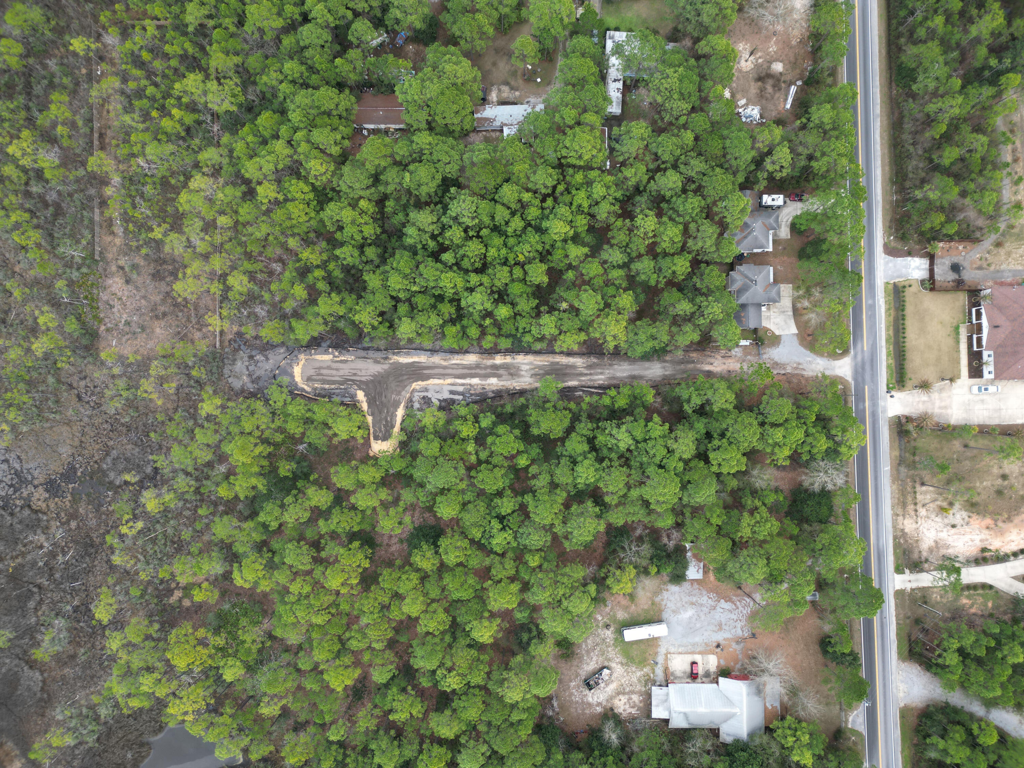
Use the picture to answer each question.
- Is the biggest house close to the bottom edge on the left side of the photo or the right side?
right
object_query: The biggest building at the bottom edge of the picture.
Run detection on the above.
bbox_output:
[667,670,765,743]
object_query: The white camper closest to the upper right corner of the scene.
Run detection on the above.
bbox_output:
[759,195,784,210]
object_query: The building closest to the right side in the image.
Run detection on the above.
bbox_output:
[967,284,1024,379]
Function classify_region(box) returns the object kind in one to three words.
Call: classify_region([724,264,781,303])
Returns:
house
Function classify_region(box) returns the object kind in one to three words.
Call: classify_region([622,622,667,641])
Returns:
camper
